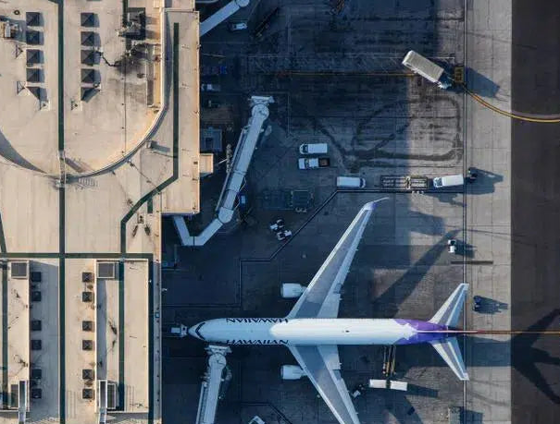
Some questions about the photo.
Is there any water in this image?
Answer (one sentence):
No, no water is visible.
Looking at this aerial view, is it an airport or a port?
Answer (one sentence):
This looks like an airport.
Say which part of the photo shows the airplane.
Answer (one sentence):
You can find the airplane in the bottom area of the picture.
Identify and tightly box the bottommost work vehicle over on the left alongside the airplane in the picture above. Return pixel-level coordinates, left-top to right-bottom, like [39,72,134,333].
[170,324,188,337]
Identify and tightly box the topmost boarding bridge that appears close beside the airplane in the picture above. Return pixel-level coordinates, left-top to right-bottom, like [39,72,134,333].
[167,93,272,247]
